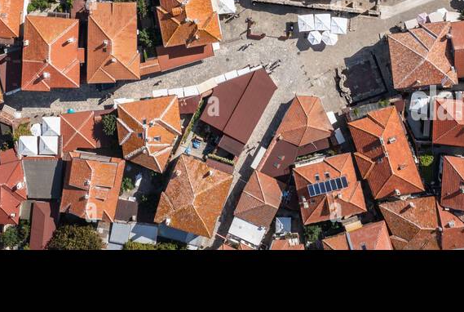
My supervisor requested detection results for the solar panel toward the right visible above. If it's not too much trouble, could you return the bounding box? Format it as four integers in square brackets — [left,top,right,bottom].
[308,176,348,196]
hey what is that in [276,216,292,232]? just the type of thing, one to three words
umbrella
